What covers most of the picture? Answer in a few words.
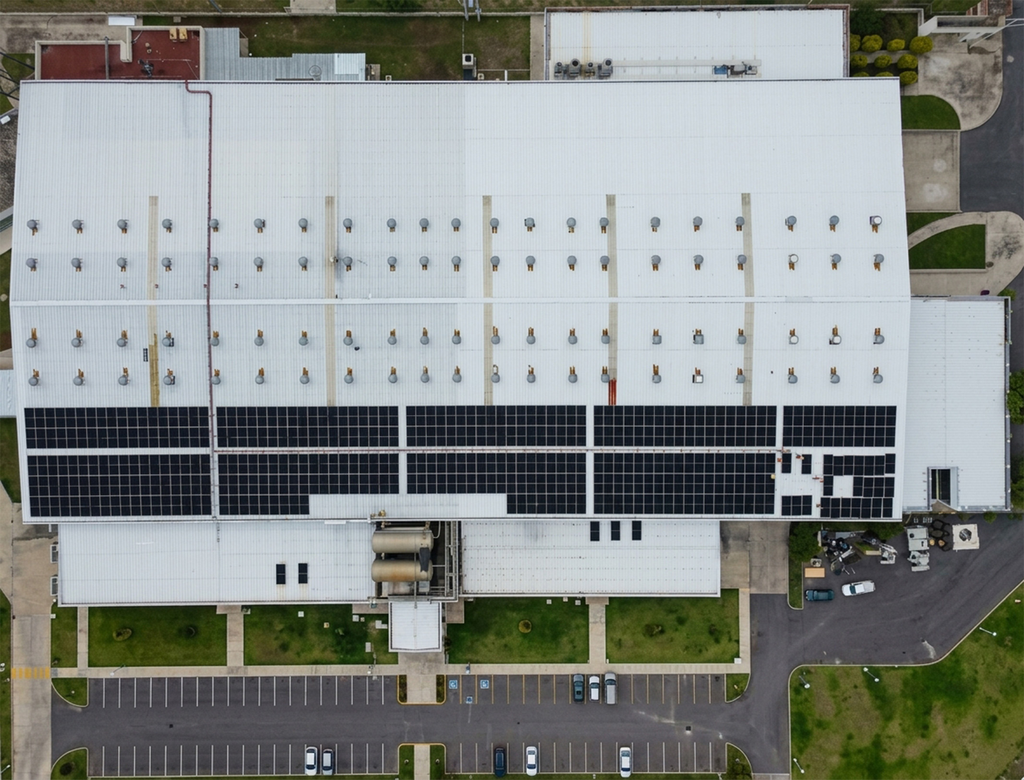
buildings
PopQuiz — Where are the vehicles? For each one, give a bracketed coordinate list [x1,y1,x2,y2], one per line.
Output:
[588,674,601,701]
[304,745,319,774]
[572,673,585,702]
[493,746,506,776]
[803,588,833,603]
[604,671,618,706]
[321,747,334,774]
[524,744,538,775]
[840,579,876,598]
[618,745,632,776]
